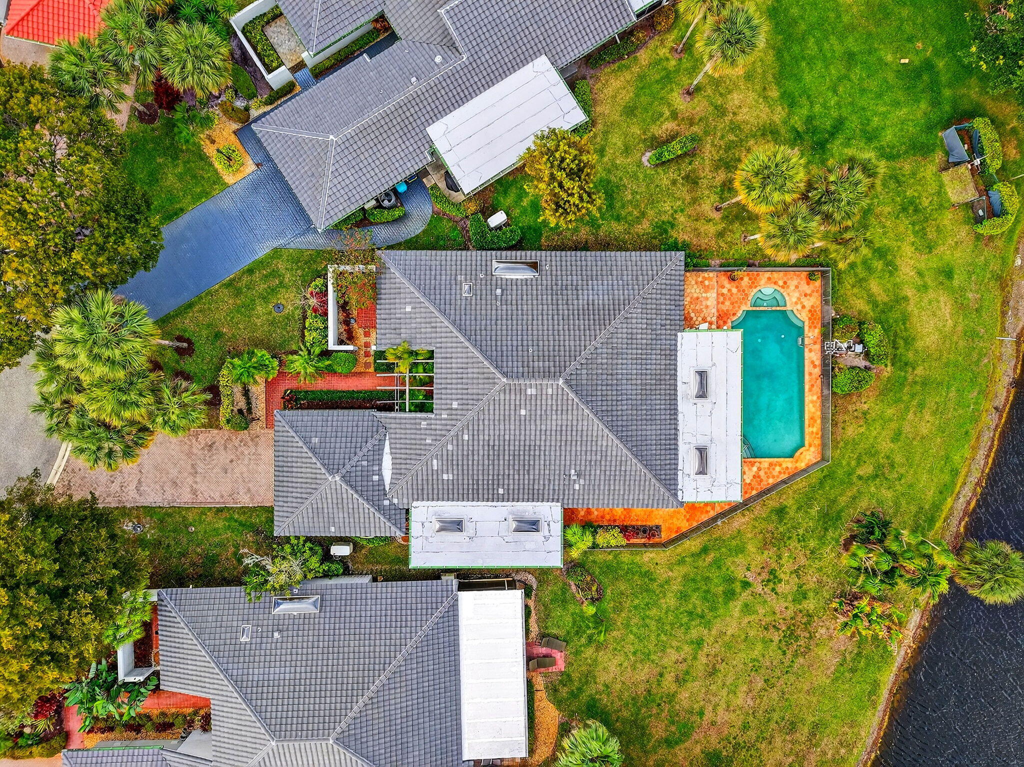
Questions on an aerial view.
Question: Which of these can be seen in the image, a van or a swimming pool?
swimming pool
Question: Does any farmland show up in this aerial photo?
No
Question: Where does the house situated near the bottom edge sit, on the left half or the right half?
left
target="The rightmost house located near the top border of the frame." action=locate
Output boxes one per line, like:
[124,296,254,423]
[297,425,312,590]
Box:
[250,0,673,233]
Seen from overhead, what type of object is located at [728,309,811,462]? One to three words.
swimming pool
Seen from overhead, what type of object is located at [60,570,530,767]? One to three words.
house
